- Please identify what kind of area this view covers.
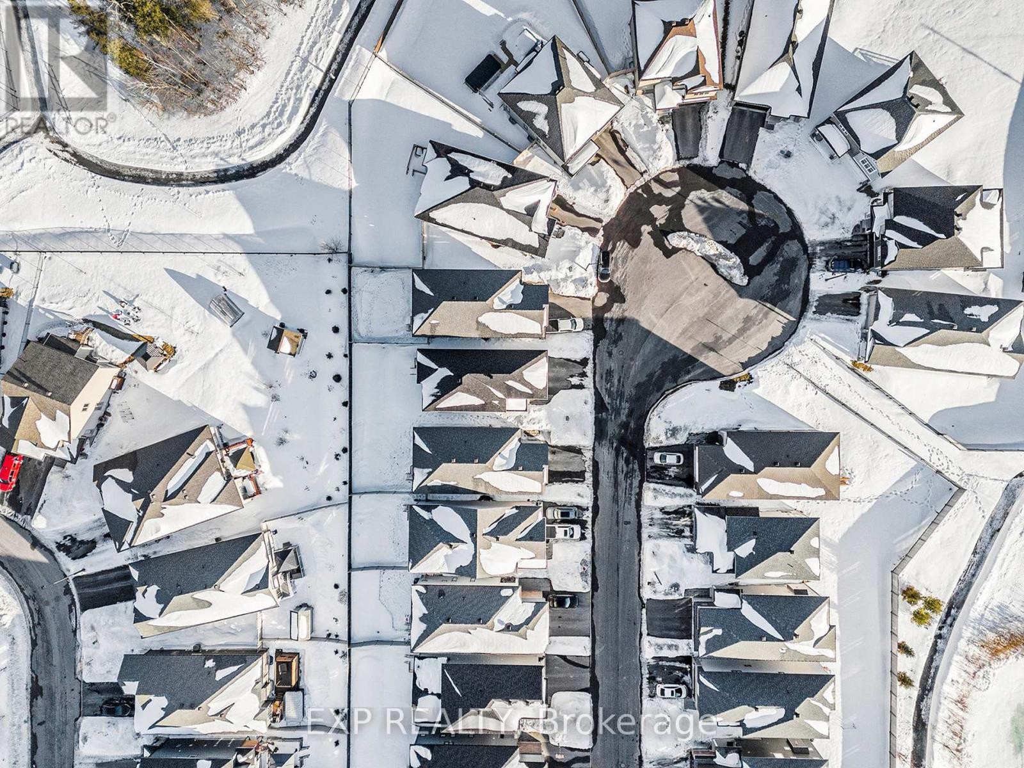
residential area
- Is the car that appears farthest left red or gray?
red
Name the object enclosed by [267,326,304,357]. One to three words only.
shed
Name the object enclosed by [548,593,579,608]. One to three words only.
car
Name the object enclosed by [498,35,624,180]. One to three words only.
house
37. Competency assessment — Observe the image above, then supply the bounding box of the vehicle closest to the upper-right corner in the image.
[827,256,866,271]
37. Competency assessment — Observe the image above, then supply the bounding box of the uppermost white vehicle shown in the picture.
[548,316,585,331]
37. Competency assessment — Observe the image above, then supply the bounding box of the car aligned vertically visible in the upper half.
[597,250,611,281]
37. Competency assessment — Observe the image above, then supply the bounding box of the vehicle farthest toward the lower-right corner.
[656,683,686,699]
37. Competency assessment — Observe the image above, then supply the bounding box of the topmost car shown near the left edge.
[0,456,22,489]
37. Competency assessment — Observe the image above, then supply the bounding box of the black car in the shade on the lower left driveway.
[100,698,131,715]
